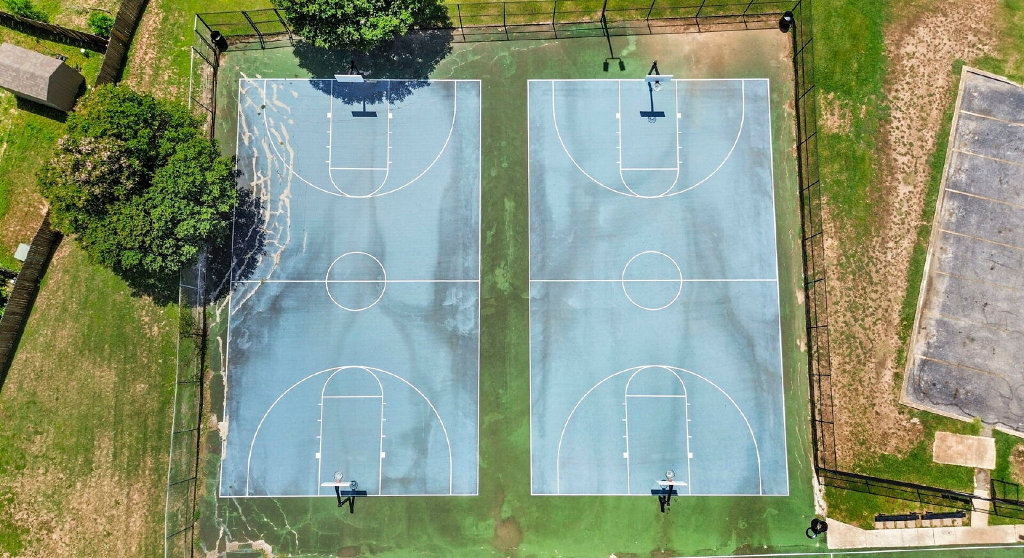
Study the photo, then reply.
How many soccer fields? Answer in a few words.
0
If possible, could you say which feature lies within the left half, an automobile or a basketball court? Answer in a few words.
basketball court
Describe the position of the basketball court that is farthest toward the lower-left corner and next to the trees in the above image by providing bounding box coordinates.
[221,75,480,496]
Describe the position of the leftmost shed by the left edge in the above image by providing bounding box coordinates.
[0,38,85,111]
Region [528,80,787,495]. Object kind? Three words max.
basketball court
